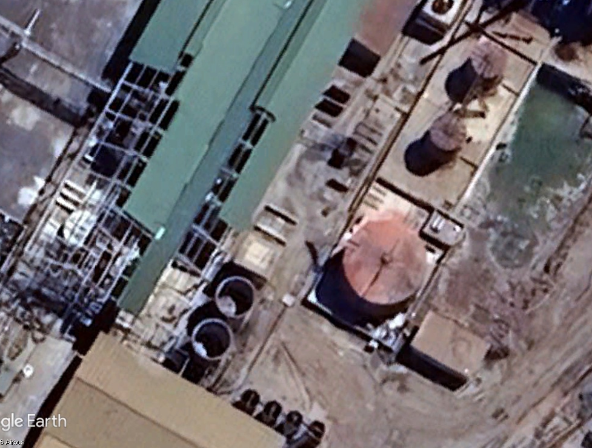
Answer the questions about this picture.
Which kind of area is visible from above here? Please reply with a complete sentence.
What you see here is an industrial area.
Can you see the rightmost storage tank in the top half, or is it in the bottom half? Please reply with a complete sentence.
The rightmost storage tank is in the top half of the image.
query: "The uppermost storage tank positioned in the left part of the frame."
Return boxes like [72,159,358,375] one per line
[207,276,255,326]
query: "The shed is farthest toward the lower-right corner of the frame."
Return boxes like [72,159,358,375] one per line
[410,310,490,381]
